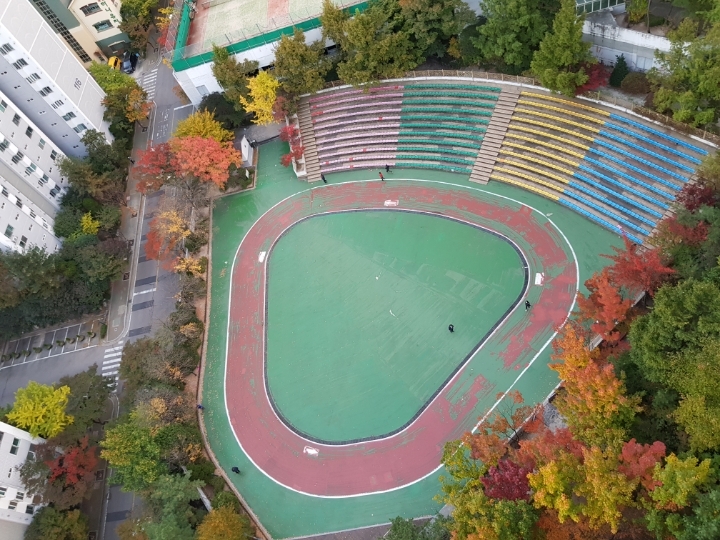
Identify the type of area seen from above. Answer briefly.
sports ground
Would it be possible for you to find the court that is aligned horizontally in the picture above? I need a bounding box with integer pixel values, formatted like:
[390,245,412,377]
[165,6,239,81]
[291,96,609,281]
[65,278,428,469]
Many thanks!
[177,0,352,60]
